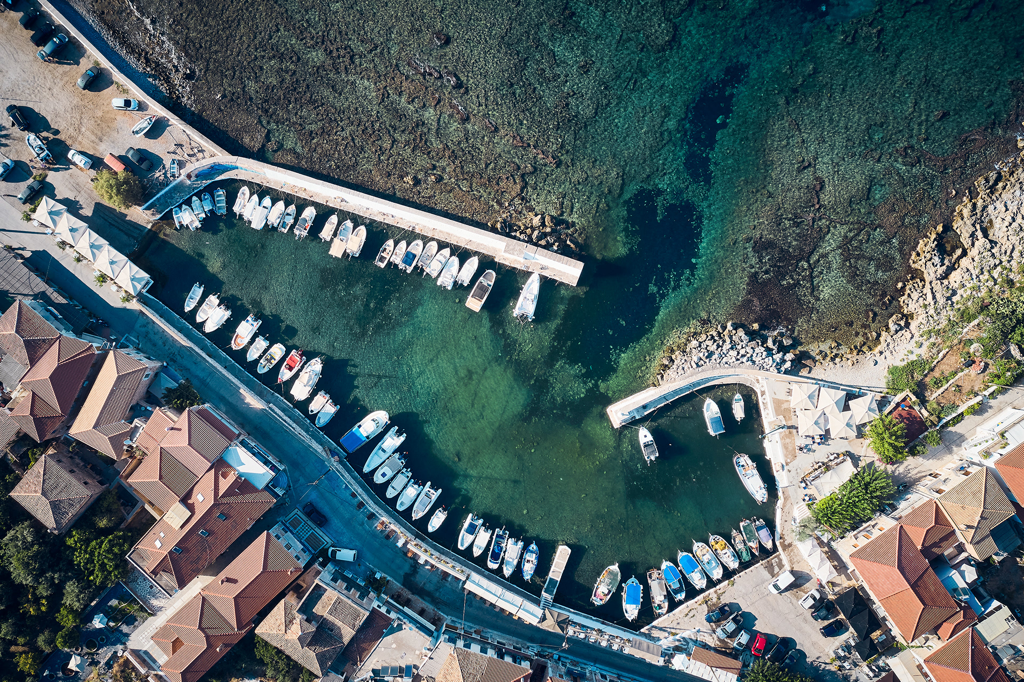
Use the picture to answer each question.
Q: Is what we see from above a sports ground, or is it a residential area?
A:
residential area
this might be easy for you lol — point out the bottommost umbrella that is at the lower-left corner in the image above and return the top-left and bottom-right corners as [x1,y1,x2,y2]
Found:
[68,649,93,672]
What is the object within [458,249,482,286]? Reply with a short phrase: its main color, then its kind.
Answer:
white boat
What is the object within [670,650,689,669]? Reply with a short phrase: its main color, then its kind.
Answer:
white umbrella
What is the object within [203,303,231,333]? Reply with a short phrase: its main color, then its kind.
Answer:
white boat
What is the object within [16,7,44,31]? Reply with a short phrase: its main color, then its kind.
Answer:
black car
